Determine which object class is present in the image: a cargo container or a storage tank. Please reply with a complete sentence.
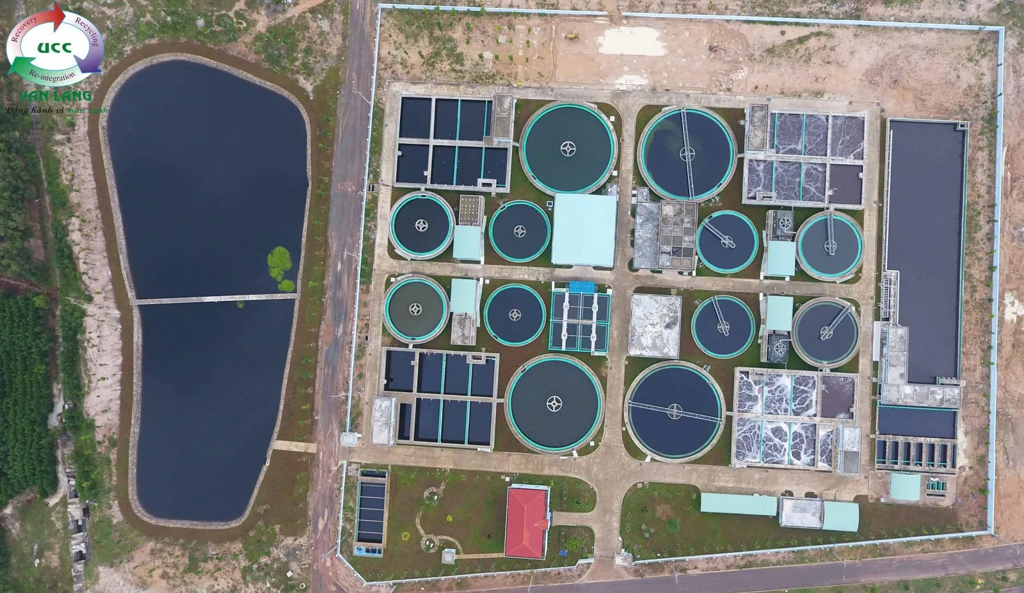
The image shows a storage tank.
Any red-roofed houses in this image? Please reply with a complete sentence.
Yes, the image includes a red-roofed house.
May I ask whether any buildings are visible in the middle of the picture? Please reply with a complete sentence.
Yes, a building shows up in the middle of the picture.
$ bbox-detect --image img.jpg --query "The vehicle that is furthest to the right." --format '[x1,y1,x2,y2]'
[708,43,726,56]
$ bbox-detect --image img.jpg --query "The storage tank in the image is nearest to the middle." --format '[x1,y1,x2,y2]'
[484,283,547,346]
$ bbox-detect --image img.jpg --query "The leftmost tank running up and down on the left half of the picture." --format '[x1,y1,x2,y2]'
[354,468,388,549]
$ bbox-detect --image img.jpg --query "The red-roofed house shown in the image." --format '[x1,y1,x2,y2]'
[504,484,553,560]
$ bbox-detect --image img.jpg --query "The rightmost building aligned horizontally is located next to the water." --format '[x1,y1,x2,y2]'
[879,385,961,408]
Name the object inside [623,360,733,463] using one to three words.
storage tank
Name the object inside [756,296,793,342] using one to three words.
house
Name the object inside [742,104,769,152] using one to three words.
building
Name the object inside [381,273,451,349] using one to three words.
storage tank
